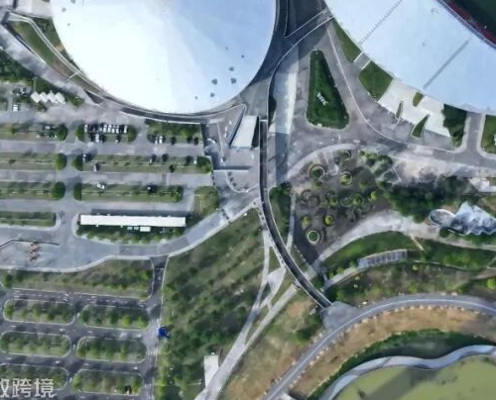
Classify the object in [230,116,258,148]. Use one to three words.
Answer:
building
